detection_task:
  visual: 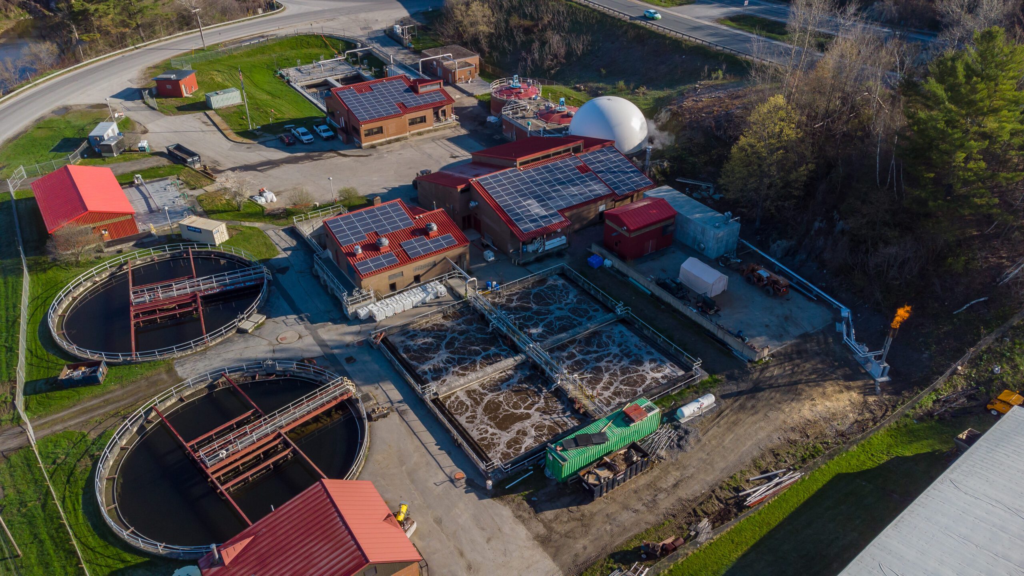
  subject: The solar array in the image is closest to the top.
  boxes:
[338,77,447,120]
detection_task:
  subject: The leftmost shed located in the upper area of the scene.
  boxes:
[33,163,137,253]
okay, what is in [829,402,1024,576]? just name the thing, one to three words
warehouse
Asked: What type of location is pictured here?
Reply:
industrial area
